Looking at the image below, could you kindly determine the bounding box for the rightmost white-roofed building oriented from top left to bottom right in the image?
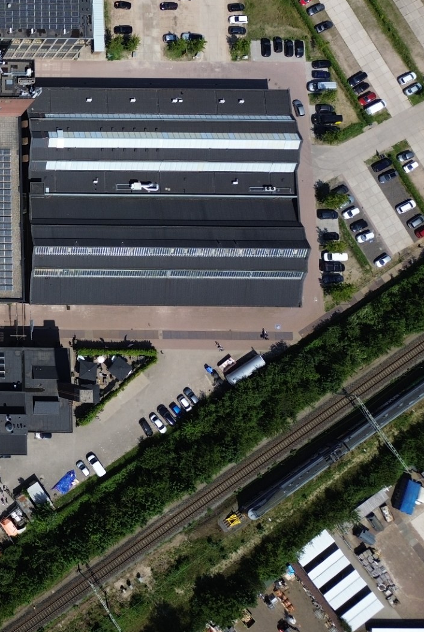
[292,526,384,632]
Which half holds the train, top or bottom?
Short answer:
bottom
